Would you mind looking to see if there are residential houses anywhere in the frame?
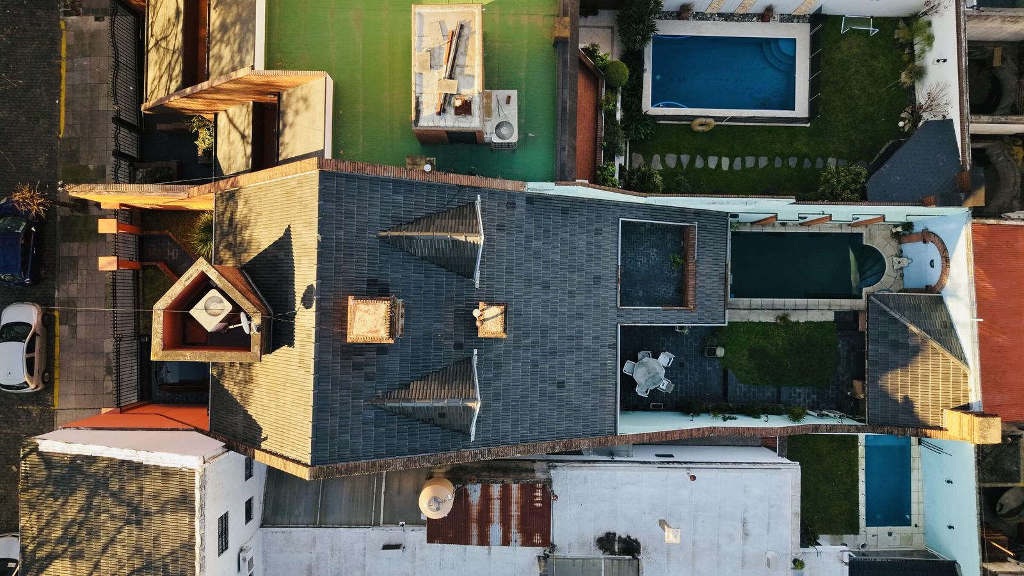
Yes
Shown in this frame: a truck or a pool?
pool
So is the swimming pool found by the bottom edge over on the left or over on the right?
right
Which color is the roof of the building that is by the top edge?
green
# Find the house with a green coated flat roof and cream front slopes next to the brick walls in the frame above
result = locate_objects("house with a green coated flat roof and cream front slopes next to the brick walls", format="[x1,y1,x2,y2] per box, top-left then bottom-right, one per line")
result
[145,0,579,187]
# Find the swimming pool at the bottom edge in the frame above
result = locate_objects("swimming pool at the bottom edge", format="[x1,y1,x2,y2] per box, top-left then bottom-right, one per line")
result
[818,434,925,549]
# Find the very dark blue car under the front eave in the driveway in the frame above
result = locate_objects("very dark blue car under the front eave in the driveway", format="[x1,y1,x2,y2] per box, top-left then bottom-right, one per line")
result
[154,362,210,402]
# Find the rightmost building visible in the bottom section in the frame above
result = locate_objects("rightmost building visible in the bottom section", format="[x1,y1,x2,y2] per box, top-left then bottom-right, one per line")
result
[845,292,958,423]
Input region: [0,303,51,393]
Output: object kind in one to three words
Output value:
car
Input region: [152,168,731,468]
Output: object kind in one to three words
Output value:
house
